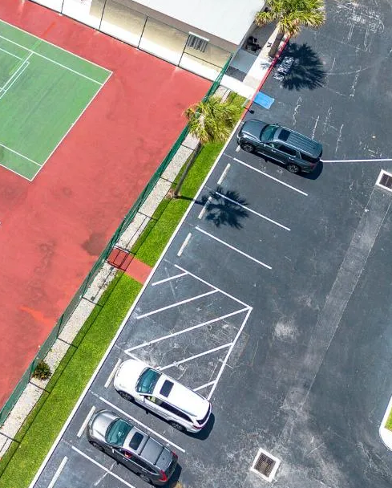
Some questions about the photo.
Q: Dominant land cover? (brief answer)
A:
paved ground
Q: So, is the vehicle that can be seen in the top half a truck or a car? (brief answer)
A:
car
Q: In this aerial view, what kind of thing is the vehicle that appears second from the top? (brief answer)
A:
car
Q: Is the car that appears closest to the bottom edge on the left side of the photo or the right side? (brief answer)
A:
left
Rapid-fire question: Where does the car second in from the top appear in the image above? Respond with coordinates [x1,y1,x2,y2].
[116,361,214,437]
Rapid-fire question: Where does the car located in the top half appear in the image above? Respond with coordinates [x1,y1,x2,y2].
[239,120,326,174]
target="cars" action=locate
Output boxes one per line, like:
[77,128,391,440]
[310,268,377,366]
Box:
[239,120,326,174]
[85,411,179,488]
[116,361,214,437]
